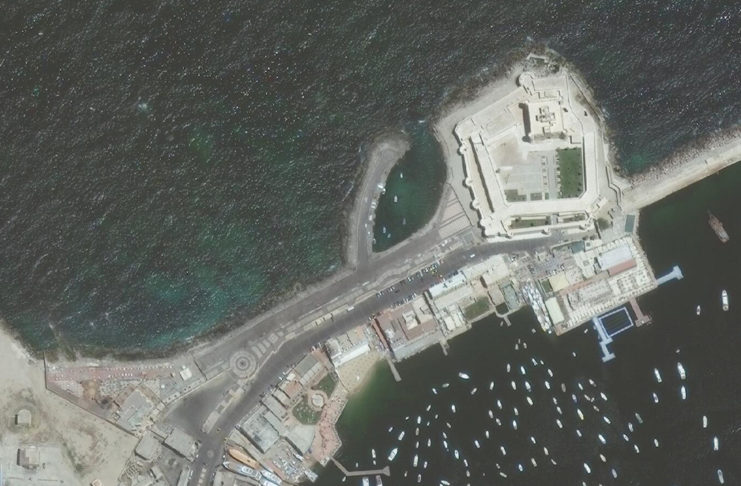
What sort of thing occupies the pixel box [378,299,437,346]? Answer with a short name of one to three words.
building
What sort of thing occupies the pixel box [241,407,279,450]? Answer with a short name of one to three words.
building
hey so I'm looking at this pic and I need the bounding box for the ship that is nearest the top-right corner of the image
[709,209,730,242]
